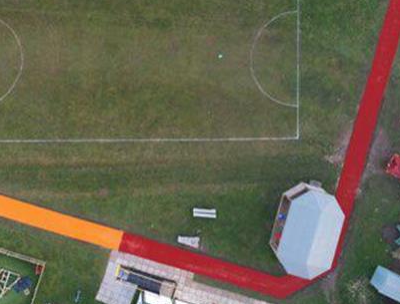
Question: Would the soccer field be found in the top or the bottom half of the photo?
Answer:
top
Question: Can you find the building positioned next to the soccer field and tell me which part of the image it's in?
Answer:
bottom right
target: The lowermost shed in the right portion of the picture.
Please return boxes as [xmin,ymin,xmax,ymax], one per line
[359,258,400,302]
